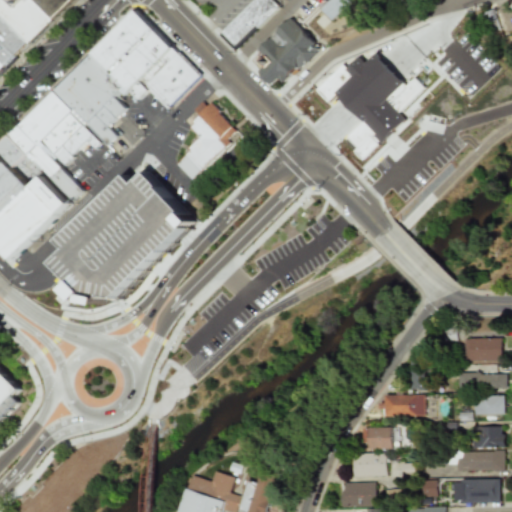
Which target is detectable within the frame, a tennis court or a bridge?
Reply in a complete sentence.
I can see a bridge in this picture.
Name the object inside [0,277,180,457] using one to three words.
roundabout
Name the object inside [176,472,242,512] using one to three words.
house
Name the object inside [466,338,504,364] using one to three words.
house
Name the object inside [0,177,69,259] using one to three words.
building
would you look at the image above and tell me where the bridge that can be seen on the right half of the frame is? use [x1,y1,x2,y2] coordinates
[366,218,462,304]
